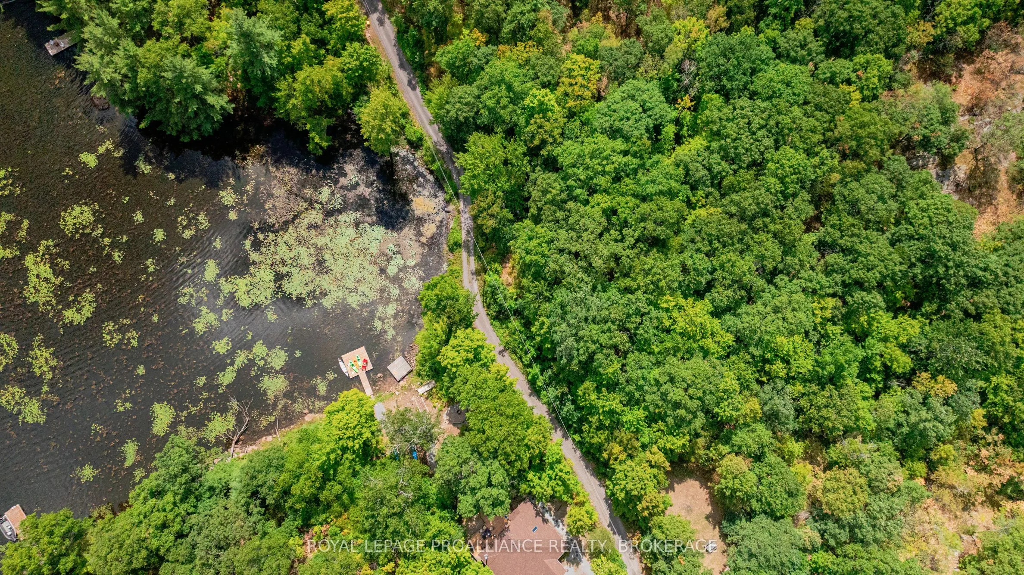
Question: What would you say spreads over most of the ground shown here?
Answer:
trees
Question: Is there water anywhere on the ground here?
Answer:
Yes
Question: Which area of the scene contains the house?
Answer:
bottom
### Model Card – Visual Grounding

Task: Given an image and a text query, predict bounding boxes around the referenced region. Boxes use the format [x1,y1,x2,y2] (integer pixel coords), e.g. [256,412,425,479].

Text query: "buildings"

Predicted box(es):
[485,496,575,575]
